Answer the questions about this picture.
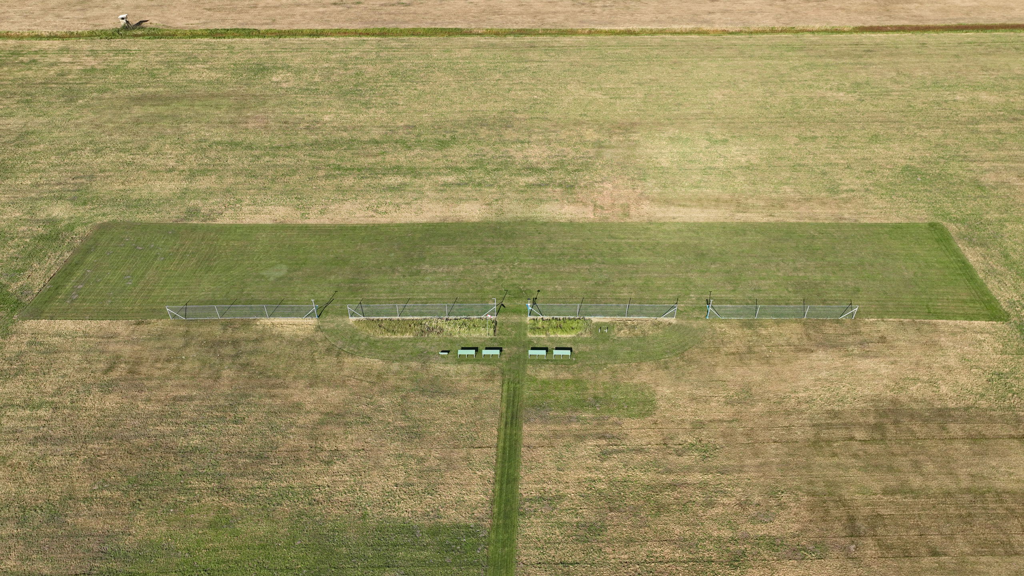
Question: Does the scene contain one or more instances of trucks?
No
